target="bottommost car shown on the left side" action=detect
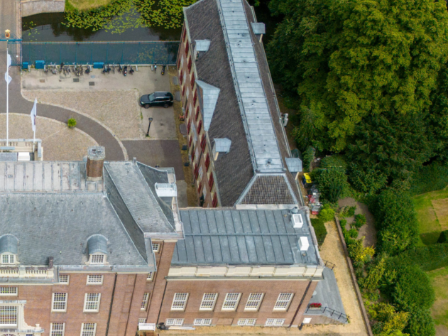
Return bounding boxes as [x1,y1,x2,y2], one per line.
[138,87,176,107]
